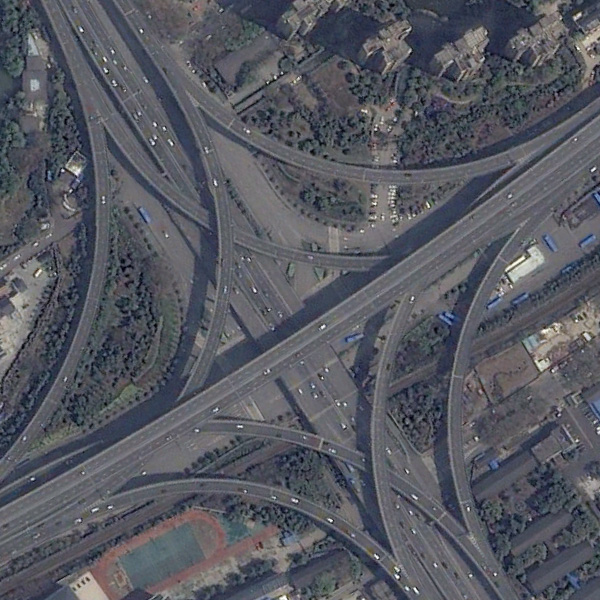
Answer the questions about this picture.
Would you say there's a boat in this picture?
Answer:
No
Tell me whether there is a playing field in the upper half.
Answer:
No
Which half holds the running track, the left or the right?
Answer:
left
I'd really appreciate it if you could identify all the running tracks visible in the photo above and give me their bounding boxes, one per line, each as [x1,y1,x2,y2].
[96,509,274,600]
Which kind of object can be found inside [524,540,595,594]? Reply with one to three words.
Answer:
house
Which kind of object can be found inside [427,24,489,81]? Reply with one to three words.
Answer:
building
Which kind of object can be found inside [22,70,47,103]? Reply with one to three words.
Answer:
shed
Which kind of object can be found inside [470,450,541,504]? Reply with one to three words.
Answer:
house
